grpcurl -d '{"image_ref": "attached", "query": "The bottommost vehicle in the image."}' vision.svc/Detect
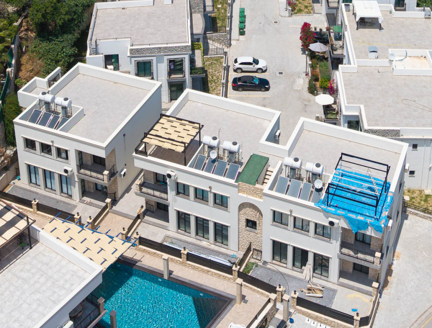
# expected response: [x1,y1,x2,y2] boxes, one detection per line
[233,75,270,92]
